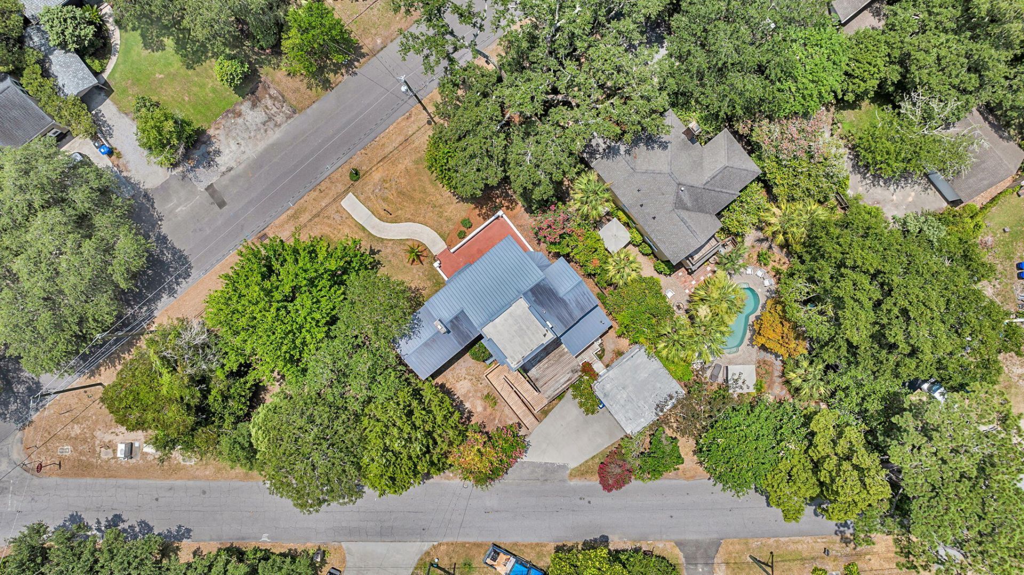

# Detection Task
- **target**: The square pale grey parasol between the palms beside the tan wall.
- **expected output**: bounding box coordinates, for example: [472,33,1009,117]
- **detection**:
[599,218,630,253]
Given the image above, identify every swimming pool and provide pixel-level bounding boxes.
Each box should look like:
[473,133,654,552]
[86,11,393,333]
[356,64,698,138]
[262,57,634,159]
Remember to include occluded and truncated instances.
[717,284,763,357]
